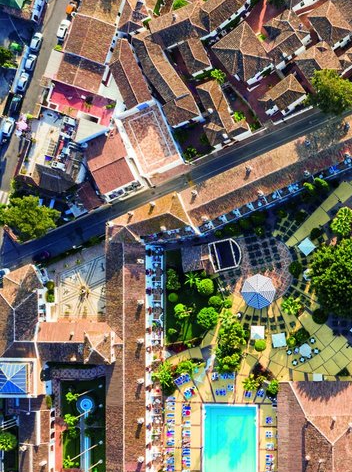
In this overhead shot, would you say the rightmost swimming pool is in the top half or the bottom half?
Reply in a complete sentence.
The bottom half of the photo is where the rightmost swimming pool is.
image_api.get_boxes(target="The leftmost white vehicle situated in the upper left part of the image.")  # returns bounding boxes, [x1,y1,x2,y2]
[1,117,16,137]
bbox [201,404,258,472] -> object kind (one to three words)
swimming pool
